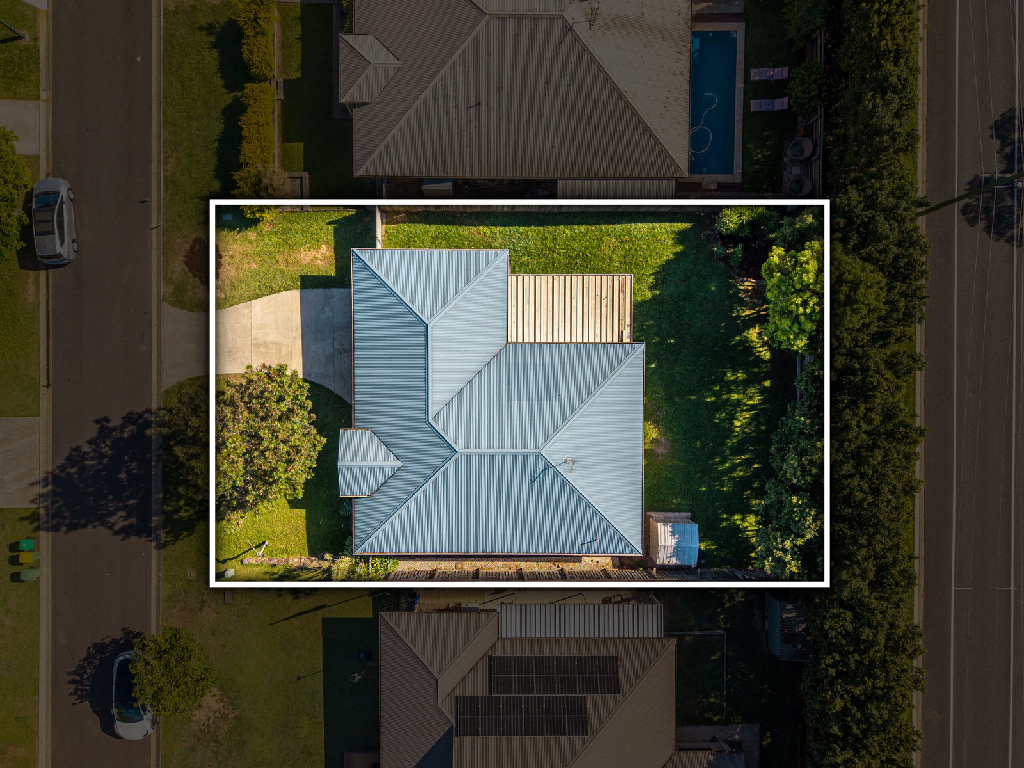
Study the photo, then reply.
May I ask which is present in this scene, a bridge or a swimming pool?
swimming pool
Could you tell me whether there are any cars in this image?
Yes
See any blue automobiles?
No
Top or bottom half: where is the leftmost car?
top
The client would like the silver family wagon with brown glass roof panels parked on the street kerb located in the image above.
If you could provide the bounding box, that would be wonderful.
[29,179,81,267]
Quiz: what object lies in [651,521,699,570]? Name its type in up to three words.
shed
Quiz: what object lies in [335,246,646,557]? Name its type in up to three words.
house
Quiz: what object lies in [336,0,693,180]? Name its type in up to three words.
house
